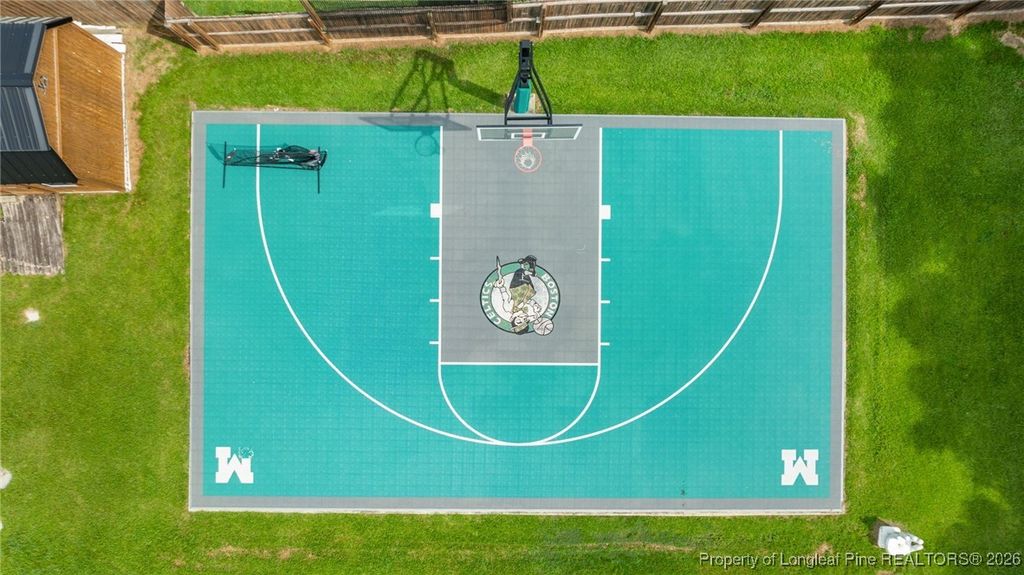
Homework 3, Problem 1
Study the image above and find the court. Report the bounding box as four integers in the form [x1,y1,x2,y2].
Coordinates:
[187,110,847,514]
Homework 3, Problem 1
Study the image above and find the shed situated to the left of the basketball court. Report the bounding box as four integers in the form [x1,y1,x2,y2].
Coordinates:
[0,17,128,194]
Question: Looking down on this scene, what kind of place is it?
sports ground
